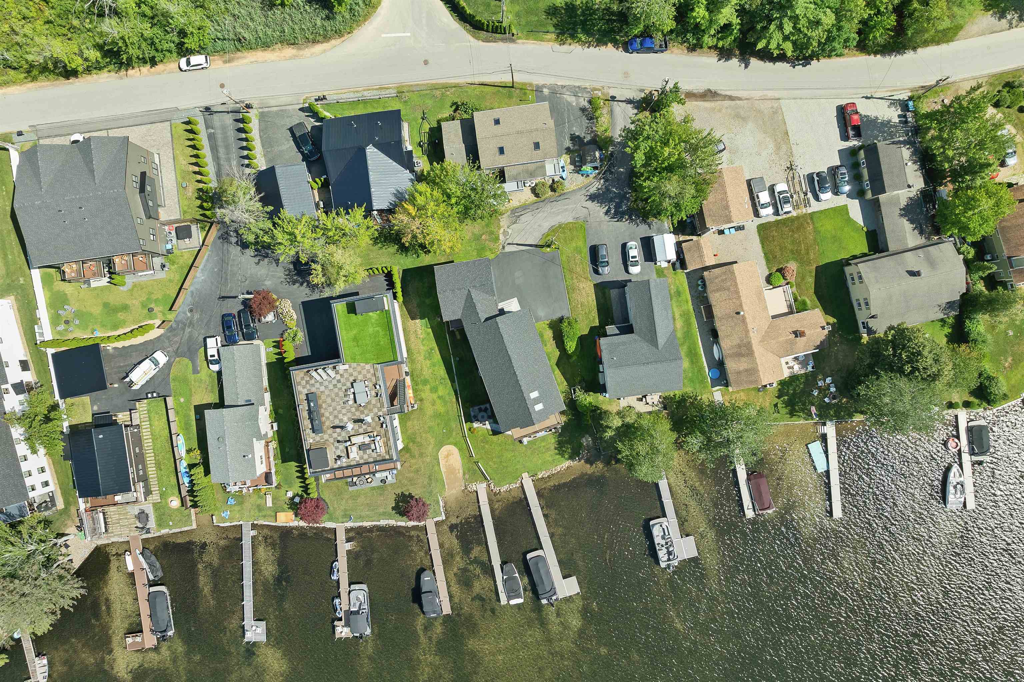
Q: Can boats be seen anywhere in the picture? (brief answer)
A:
Yes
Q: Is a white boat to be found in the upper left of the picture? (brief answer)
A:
No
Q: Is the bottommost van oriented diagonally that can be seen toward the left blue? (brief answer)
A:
No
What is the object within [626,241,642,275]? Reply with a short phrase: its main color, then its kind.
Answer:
white car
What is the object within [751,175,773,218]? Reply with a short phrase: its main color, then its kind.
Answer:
white truck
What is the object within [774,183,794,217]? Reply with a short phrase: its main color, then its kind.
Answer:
white car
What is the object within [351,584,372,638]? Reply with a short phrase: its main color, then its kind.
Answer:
gray boat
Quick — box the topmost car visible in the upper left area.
[178,53,212,72]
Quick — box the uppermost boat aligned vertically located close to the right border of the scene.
[967,420,991,464]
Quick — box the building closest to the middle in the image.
[434,257,566,442]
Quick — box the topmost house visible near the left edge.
[13,131,166,281]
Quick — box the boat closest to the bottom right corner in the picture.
[946,463,967,511]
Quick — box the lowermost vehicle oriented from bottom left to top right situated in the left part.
[118,349,171,390]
